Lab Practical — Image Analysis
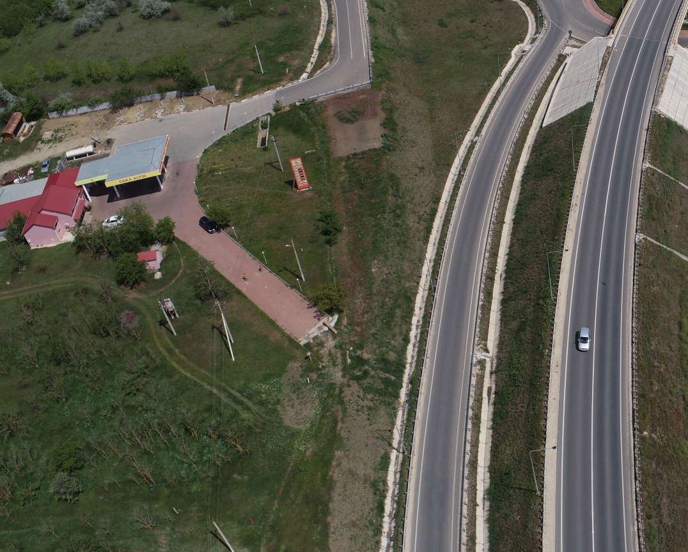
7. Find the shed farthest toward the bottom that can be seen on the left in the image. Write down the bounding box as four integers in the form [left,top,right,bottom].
[137,250,161,271]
